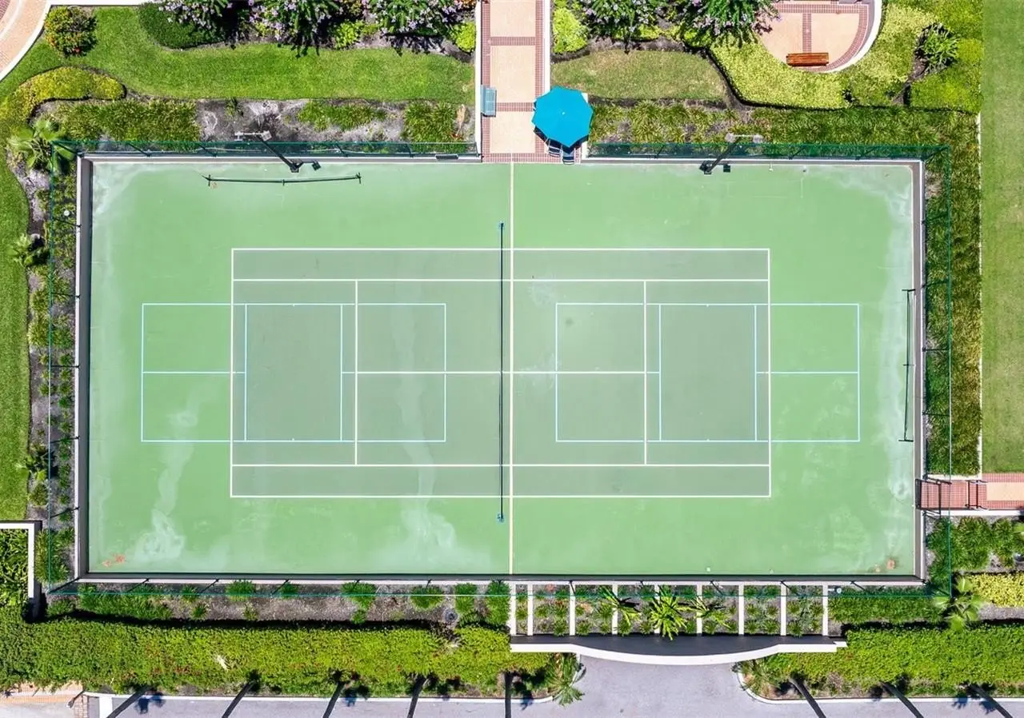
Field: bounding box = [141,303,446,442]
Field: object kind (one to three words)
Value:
sports court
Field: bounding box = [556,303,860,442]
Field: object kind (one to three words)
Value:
sports court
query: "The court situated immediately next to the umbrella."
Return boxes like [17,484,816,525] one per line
[88,153,915,574]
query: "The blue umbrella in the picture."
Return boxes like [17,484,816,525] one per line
[533,87,593,146]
